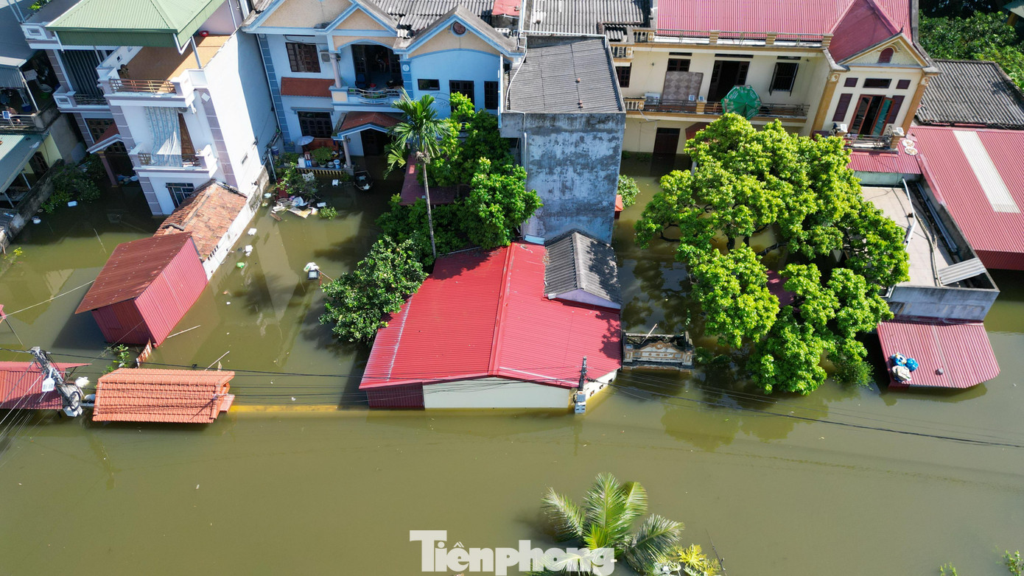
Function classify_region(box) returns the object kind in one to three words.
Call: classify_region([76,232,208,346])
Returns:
shed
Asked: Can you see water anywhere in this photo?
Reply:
Yes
